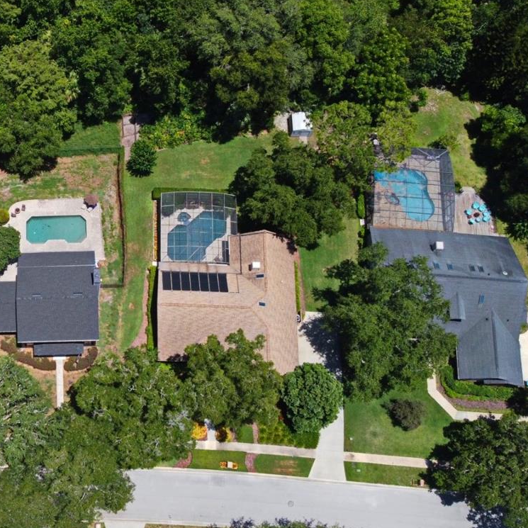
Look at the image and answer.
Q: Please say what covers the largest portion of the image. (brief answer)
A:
trees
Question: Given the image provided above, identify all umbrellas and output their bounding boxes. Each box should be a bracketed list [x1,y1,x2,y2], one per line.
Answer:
[84,194,99,207]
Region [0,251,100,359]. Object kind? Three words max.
house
